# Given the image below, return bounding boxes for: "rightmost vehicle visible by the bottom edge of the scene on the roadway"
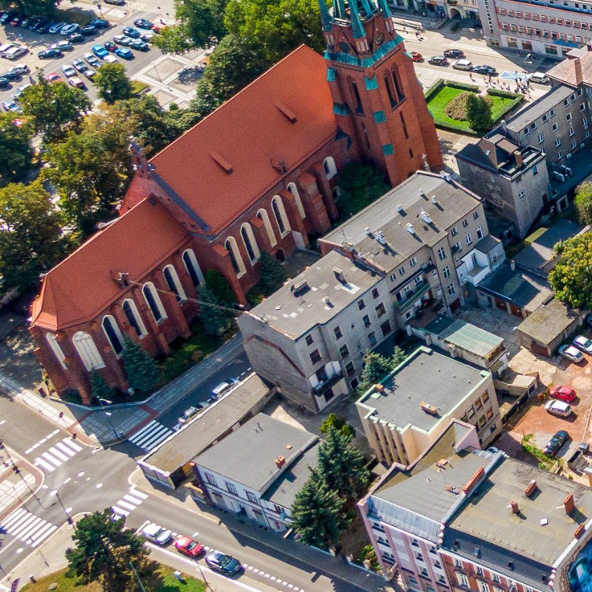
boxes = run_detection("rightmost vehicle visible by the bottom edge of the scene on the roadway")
[207,550,238,574]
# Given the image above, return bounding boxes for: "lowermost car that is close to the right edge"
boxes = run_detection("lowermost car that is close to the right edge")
[551,430,569,443]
